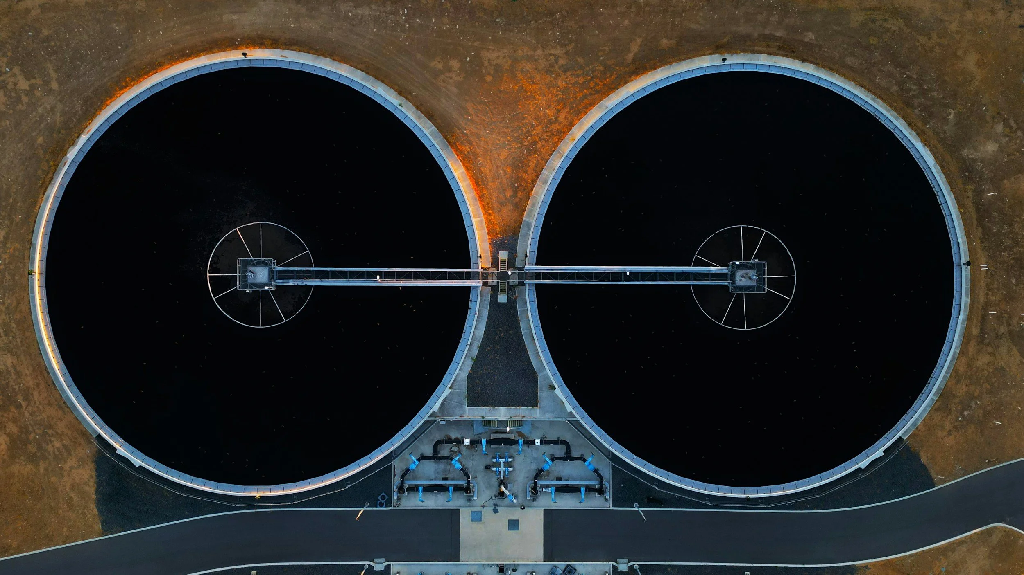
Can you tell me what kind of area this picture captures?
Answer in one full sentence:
It's an industrial area.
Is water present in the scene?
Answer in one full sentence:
Yes, there's water in this view.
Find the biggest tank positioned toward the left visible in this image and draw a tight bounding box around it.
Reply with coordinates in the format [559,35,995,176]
[34,56,481,496]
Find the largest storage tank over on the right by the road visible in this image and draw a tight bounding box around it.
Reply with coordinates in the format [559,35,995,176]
[526,61,966,498]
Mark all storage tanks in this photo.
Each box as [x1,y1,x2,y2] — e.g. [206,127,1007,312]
[34,56,481,496]
[526,61,966,498]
